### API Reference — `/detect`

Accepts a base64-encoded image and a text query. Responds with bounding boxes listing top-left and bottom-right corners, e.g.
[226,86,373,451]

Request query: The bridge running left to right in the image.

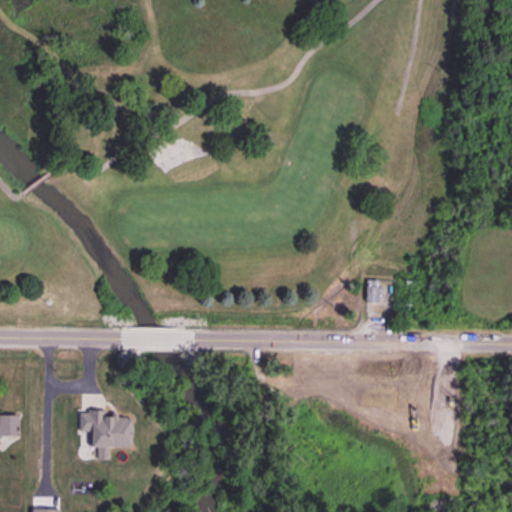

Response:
[122,330,194,350]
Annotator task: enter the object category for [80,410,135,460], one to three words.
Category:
house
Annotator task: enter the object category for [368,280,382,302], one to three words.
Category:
shed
